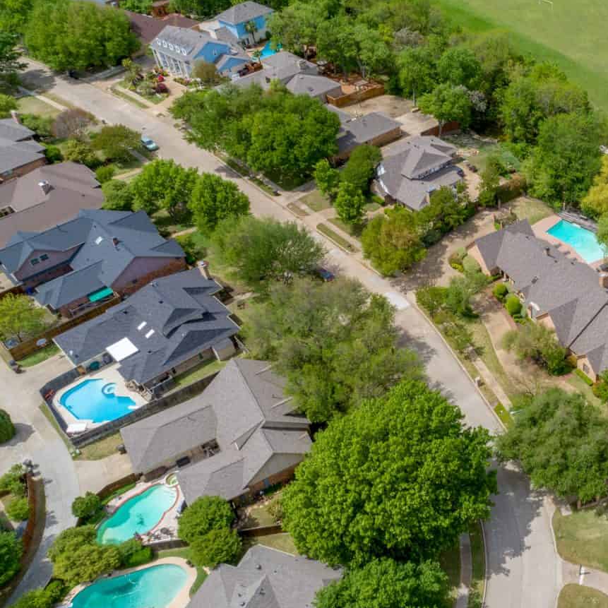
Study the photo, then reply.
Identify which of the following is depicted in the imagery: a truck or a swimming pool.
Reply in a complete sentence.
The image shows a swimming pool.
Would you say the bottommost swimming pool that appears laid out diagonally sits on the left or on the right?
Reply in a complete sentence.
The bottommost swimming pool that appears laid out diagonally appears in the left half of the scene.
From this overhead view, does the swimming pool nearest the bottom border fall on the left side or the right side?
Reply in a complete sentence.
The swimming pool nearest the bottom border is on the left side of the image.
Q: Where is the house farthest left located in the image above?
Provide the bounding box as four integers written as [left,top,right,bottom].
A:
[0,108,47,178]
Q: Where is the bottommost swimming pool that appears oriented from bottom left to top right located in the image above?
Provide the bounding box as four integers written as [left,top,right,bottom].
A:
[95,471,180,546]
